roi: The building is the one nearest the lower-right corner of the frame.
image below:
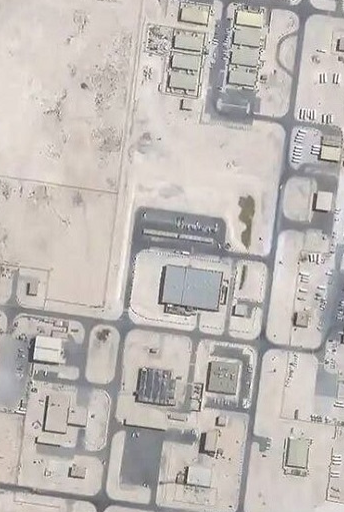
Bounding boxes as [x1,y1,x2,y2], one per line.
[285,437,310,469]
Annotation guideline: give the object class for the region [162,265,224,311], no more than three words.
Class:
building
